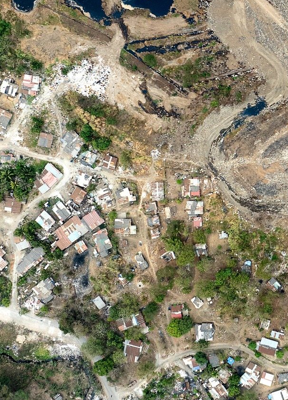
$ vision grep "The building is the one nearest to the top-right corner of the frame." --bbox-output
[175,177,202,198]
